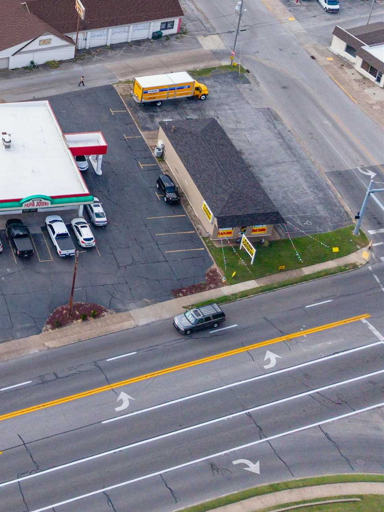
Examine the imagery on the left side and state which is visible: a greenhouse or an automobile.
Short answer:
automobile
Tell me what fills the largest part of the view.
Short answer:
paved ground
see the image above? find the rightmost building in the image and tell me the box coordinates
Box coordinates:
[329,22,384,87]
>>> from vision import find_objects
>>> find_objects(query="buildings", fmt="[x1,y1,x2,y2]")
[0,101,106,228]
[0,0,191,71]
[157,118,290,246]
[329,22,384,87]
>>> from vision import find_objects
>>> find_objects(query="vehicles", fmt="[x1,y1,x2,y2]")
[170,299,230,334]
[73,154,92,175]
[319,0,339,12]
[72,219,95,250]
[154,168,180,207]
[87,197,108,227]
[8,220,32,258]
[46,218,72,257]
[127,68,208,104]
